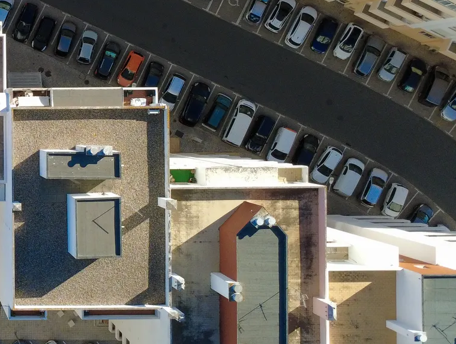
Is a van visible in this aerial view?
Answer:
Yes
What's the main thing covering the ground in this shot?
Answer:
buildings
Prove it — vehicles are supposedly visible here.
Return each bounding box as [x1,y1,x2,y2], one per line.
[202,89,232,135]
[30,14,56,52]
[52,20,79,60]
[333,157,363,196]
[396,59,427,95]
[265,123,298,163]
[311,146,340,183]
[288,129,319,168]
[332,22,362,60]
[438,83,456,123]
[11,0,40,43]
[116,49,144,88]
[244,0,272,25]
[138,58,166,88]
[375,46,406,85]
[179,85,209,124]
[307,14,339,56]
[358,167,387,207]
[159,73,188,110]
[409,197,437,223]
[72,25,101,67]
[285,6,315,49]
[0,0,15,28]
[379,181,408,215]
[223,101,254,146]
[245,114,273,153]
[93,40,121,81]
[265,0,294,33]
